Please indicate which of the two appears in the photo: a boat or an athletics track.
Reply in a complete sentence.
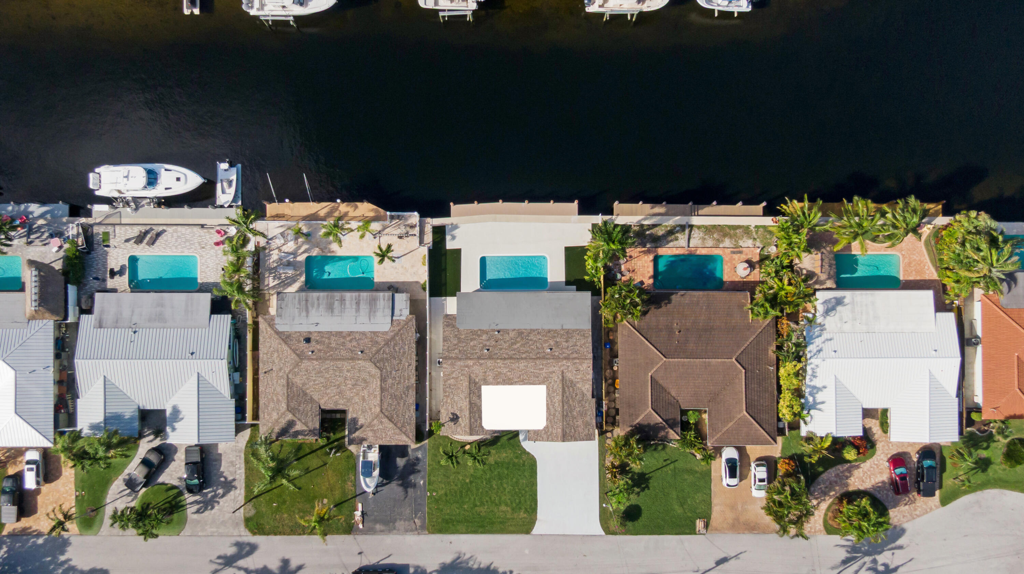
There is a boat in the scene.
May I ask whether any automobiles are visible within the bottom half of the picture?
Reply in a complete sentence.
Yes, there is an automobile within the bottom half of the picture.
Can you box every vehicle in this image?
[719,446,741,489]
[886,455,911,496]
[352,568,398,574]
[183,445,206,494]
[749,460,769,498]
[23,448,48,491]
[0,473,23,524]
[913,448,937,498]
[124,444,165,494]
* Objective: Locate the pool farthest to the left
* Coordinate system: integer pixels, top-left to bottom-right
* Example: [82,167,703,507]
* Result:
[0,253,24,292]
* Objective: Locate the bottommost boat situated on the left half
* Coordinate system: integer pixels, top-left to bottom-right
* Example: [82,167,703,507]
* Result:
[360,445,379,492]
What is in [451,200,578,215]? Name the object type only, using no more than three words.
pier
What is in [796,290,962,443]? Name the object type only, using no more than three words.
house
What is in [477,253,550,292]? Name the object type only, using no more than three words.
swimming pool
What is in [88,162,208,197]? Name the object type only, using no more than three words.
boat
